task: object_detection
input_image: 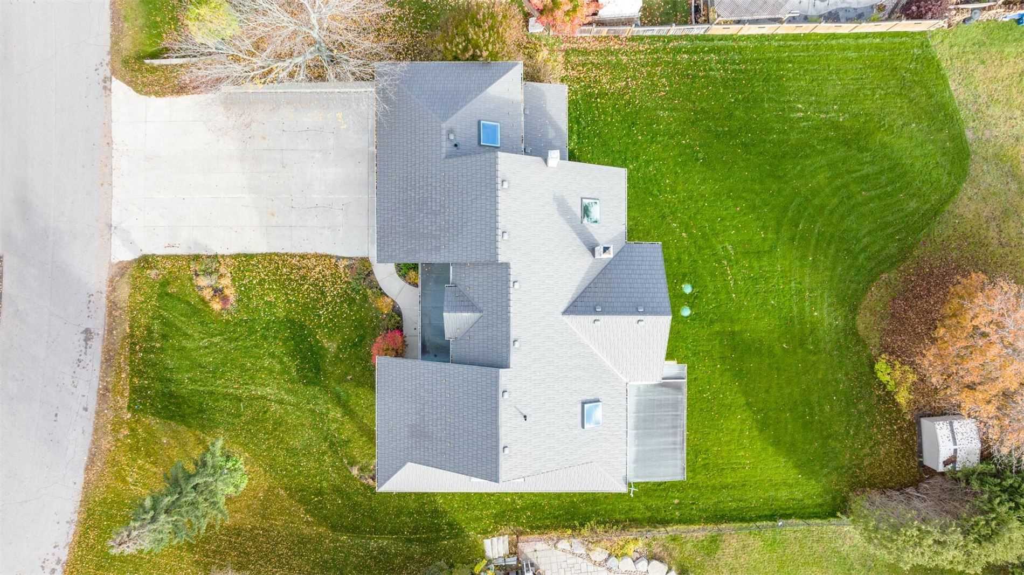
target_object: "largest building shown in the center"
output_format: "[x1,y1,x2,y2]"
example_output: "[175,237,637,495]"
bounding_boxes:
[374,60,686,494]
